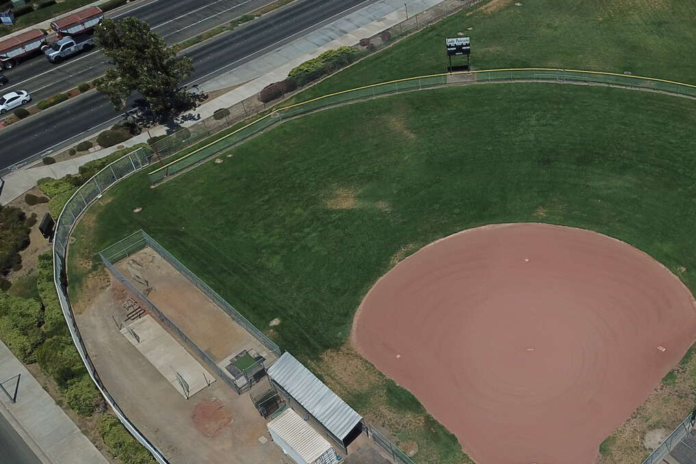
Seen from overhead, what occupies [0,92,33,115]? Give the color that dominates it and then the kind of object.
white car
